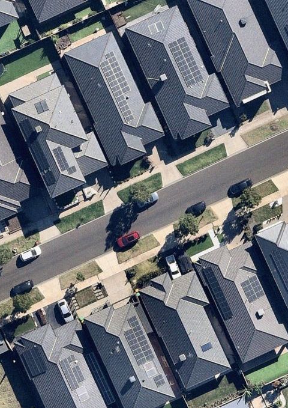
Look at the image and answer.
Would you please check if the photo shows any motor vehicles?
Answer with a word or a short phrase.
Yes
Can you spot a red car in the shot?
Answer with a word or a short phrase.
Yes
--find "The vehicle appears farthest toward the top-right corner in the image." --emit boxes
[225,177,254,198]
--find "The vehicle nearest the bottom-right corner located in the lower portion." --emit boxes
[162,249,180,274]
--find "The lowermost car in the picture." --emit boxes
[55,296,74,323]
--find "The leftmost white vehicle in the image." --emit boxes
[17,245,45,264]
